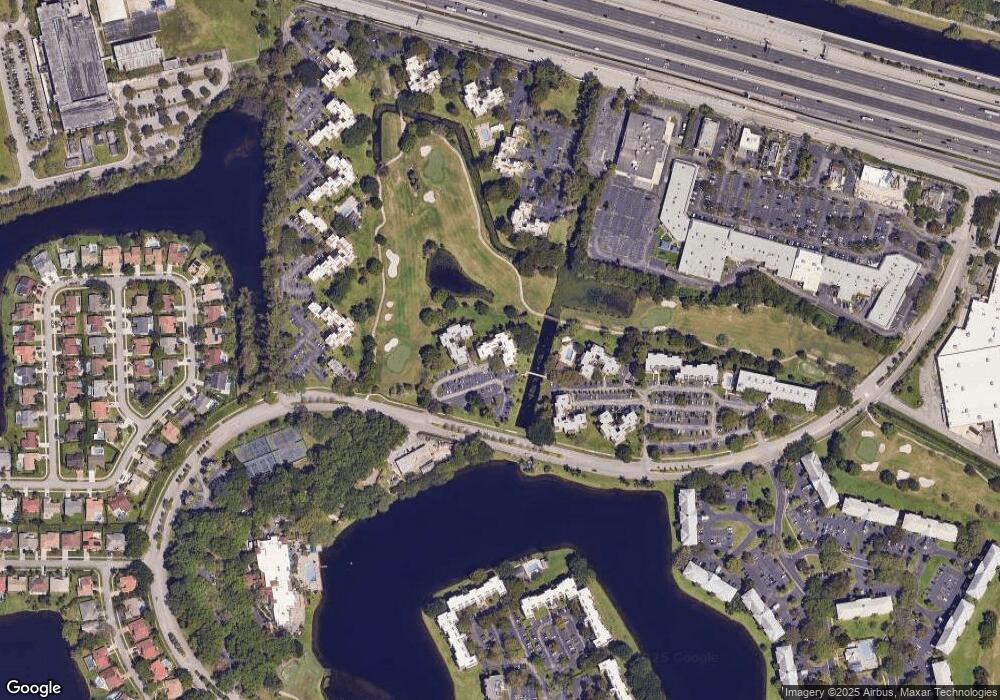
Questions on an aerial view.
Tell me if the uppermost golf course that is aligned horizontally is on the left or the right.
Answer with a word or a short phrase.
right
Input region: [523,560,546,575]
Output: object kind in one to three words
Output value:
swimming pool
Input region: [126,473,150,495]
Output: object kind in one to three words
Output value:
house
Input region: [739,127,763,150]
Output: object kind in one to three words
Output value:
building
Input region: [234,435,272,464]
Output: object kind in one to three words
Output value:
tennis court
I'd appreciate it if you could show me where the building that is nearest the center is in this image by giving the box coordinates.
[477,331,519,367]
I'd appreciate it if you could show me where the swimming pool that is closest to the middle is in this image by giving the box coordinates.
[560,346,576,365]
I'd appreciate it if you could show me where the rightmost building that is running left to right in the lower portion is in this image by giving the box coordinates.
[901,514,961,542]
